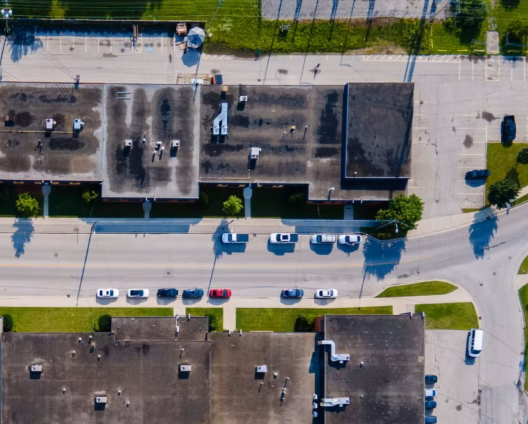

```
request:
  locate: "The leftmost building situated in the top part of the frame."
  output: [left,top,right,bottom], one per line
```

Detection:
[0,82,103,186]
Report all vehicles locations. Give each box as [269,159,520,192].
[338,234,361,244]
[96,289,119,298]
[182,288,204,298]
[156,288,178,298]
[425,415,438,424]
[425,389,438,397]
[469,328,484,357]
[222,232,249,243]
[425,374,437,385]
[465,169,488,180]
[270,233,298,243]
[210,289,231,298]
[315,289,337,298]
[425,400,437,410]
[281,288,303,298]
[502,116,515,143]
[310,233,337,244]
